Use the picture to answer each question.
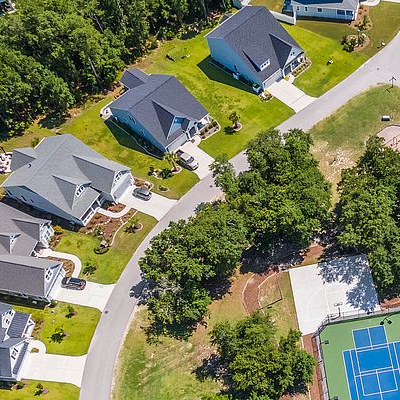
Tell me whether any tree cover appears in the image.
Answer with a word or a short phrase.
Yes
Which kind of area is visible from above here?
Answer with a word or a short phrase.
residential area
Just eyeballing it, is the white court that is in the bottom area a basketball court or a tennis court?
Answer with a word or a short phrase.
basketball court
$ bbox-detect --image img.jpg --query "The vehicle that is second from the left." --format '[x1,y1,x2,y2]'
[130,185,153,200]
